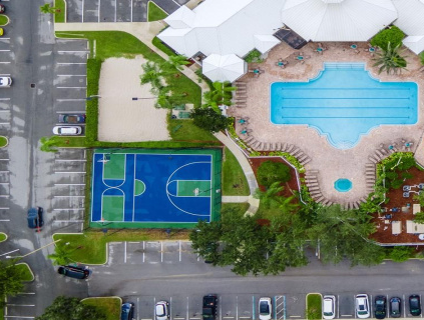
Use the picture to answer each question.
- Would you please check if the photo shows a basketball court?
Yes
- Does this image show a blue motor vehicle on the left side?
Yes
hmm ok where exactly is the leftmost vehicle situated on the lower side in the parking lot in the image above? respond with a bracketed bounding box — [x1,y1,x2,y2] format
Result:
[26,207,44,229]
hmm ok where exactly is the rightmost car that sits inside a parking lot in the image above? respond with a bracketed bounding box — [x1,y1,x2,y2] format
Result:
[407,294,421,316]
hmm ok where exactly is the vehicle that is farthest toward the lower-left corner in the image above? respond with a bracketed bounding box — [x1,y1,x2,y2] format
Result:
[56,264,92,280]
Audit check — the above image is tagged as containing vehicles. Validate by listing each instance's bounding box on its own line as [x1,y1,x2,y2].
[56,264,92,280]
[0,76,15,86]
[26,207,44,229]
[201,294,218,320]
[0,5,6,14]
[52,126,83,136]
[372,295,387,319]
[121,302,136,320]
[407,294,421,316]
[57,114,84,124]
[321,295,336,319]
[389,297,402,318]
[155,300,170,320]
[258,297,272,320]
[355,295,369,318]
